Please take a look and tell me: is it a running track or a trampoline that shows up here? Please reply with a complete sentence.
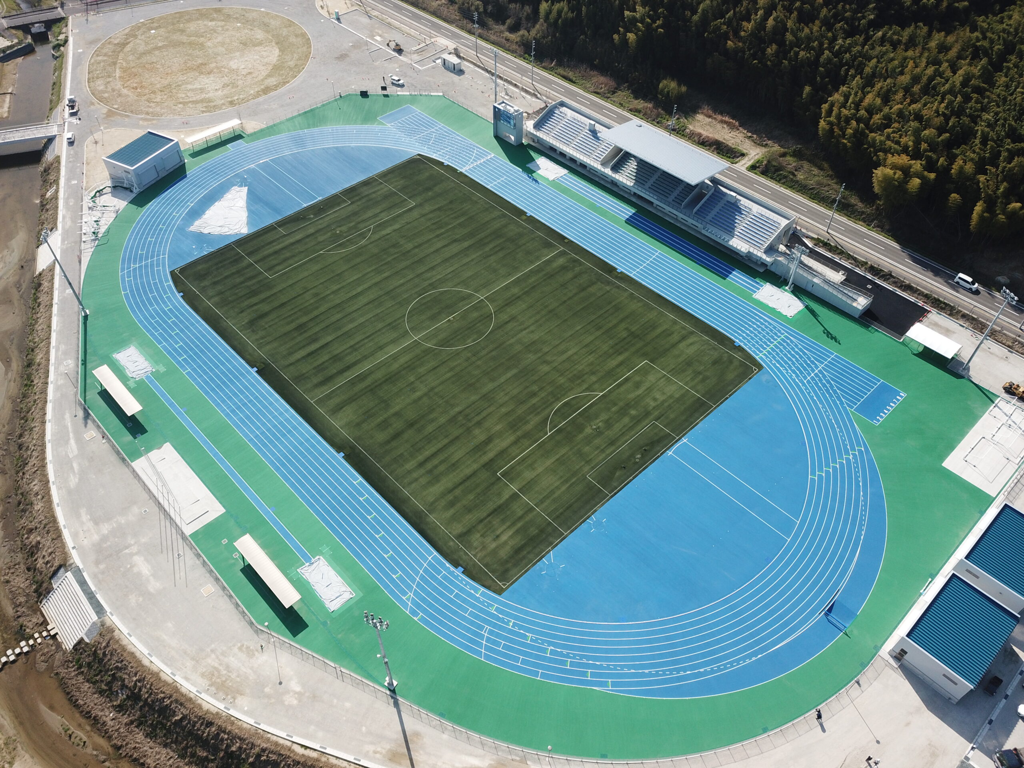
The one in the frame is a running track.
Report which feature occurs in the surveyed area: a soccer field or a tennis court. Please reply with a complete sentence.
I can see a soccer field in this picture.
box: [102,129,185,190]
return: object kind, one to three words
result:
shed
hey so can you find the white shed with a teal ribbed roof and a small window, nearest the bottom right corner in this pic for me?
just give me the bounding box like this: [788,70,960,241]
[888,569,1021,703]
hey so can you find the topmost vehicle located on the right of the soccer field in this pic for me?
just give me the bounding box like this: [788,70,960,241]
[953,275,978,293]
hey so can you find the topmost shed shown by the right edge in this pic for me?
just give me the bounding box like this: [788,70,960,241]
[954,503,1024,621]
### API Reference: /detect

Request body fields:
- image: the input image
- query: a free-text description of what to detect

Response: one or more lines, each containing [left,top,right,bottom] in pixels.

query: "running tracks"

[118,125,865,686]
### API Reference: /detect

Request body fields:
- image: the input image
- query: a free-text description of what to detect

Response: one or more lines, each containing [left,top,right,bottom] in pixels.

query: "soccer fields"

[169,153,763,595]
